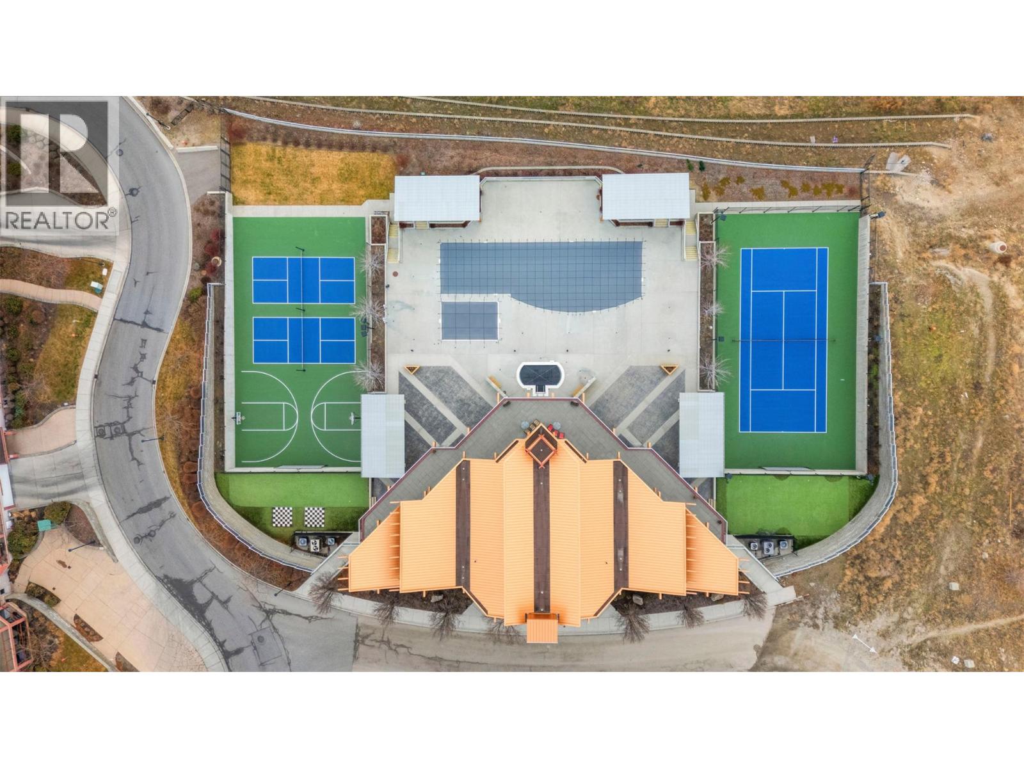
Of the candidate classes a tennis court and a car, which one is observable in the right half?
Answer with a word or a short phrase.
tennis court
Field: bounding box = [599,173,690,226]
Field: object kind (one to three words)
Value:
shed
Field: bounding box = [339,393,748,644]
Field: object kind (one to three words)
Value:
building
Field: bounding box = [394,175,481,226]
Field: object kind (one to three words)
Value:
shed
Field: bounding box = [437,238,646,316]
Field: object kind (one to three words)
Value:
swimming pool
